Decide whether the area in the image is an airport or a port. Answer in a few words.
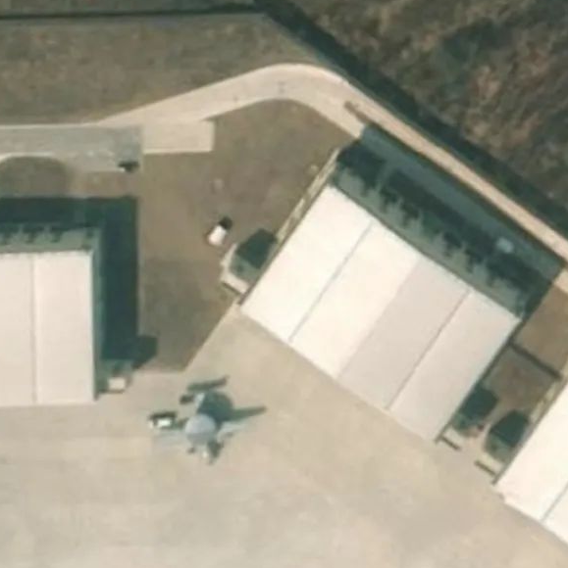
airport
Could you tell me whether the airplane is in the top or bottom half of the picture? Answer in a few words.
bottom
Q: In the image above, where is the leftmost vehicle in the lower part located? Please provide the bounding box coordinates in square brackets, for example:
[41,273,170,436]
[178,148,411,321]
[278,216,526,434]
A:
[150,415,174,428]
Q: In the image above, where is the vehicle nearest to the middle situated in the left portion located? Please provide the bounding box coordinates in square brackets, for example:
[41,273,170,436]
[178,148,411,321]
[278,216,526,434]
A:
[210,219,229,242]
